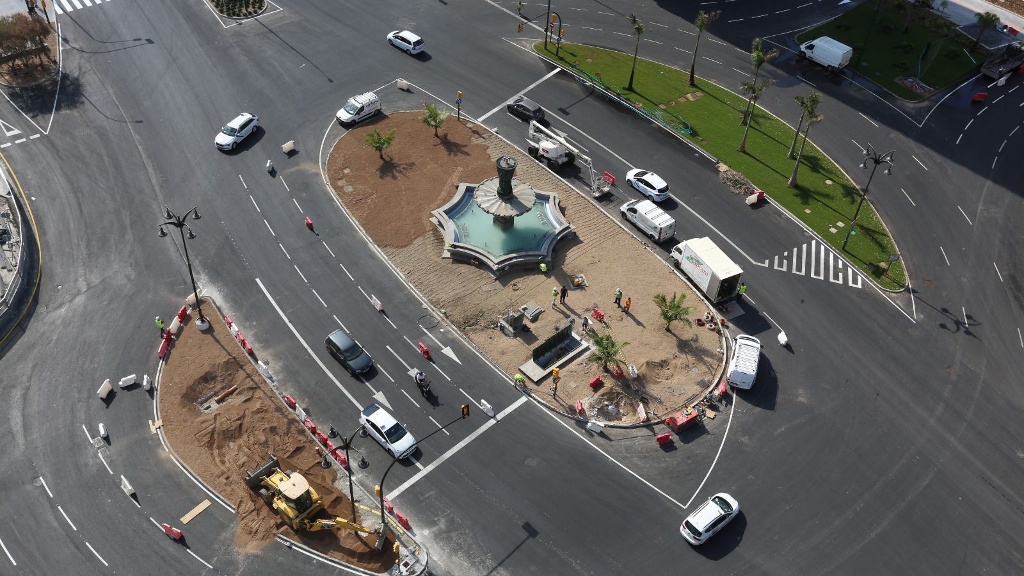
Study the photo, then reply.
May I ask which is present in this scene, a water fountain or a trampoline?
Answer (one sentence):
I can see a water fountain in this picture.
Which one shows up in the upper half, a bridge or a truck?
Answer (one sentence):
What appears in the upper half is a truck.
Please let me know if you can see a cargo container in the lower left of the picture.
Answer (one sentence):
No, no cargo container can be made out in the lower left of the picture.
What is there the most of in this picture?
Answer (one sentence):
Most of the picture is covered by paved ground.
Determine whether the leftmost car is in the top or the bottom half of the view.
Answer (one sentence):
The leftmost car is in the top half of the image.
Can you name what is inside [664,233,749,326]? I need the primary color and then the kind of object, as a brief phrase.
white truck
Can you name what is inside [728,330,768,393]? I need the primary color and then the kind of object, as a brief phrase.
white van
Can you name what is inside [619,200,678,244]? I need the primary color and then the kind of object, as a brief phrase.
white van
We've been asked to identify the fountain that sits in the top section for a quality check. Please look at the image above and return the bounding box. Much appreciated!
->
[426,155,582,281]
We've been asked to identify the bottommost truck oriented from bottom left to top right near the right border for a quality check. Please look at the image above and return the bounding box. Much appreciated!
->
[982,28,1024,74]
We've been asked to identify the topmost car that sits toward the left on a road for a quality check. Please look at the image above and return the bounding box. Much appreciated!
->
[386,28,427,55]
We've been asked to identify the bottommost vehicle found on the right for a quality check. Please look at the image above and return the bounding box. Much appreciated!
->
[680,489,741,545]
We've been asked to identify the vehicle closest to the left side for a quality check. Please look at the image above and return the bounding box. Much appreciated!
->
[214,114,258,149]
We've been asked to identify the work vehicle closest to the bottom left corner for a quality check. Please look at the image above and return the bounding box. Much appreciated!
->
[240,453,389,555]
